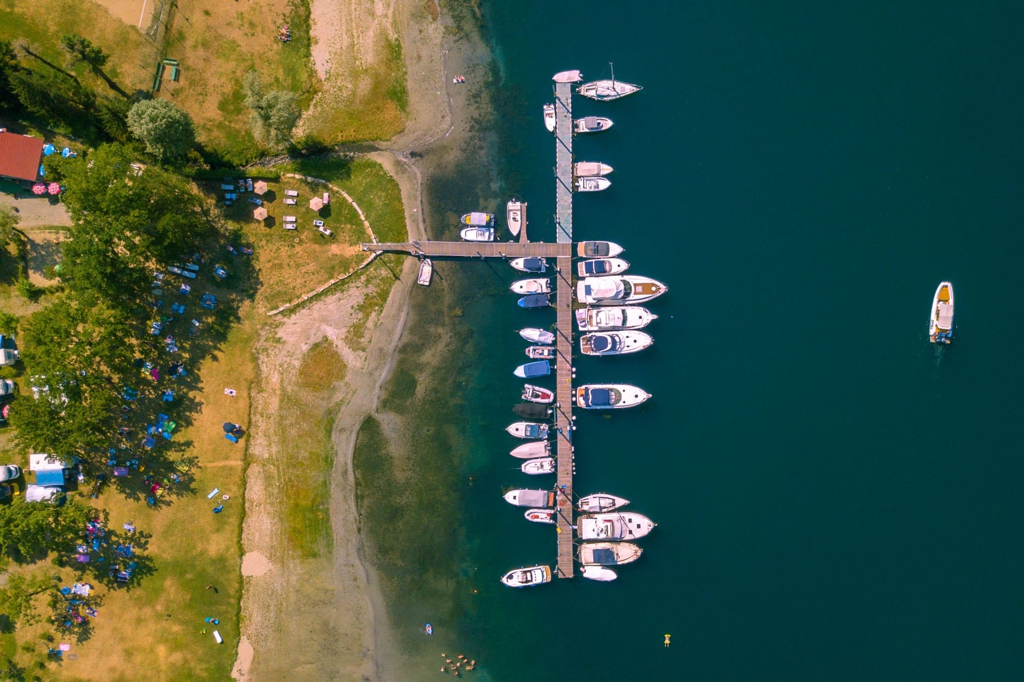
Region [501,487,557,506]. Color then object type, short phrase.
white boat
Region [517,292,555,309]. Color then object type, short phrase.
blue boat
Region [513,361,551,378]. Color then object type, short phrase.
blue boat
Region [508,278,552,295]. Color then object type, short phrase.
white boat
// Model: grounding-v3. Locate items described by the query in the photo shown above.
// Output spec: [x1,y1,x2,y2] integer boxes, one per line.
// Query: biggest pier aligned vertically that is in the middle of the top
[556,82,572,241]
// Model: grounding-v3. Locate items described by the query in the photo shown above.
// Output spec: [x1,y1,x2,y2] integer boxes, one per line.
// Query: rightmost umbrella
[310,197,323,211]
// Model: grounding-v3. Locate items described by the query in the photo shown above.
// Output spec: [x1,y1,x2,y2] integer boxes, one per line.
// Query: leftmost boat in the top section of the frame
[418,259,433,285]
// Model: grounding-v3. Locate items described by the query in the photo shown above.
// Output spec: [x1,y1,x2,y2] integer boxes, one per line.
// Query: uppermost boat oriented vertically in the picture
[544,101,557,132]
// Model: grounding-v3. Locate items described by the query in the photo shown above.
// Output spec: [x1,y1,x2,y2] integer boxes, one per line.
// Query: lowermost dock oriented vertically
[558,257,573,577]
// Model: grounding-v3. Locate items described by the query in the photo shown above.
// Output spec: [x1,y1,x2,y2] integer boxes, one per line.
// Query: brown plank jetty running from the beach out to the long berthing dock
[414,241,573,257]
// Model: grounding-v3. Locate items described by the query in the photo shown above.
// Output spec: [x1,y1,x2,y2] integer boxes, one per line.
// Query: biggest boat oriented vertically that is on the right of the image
[929,282,955,343]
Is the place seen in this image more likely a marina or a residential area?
marina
